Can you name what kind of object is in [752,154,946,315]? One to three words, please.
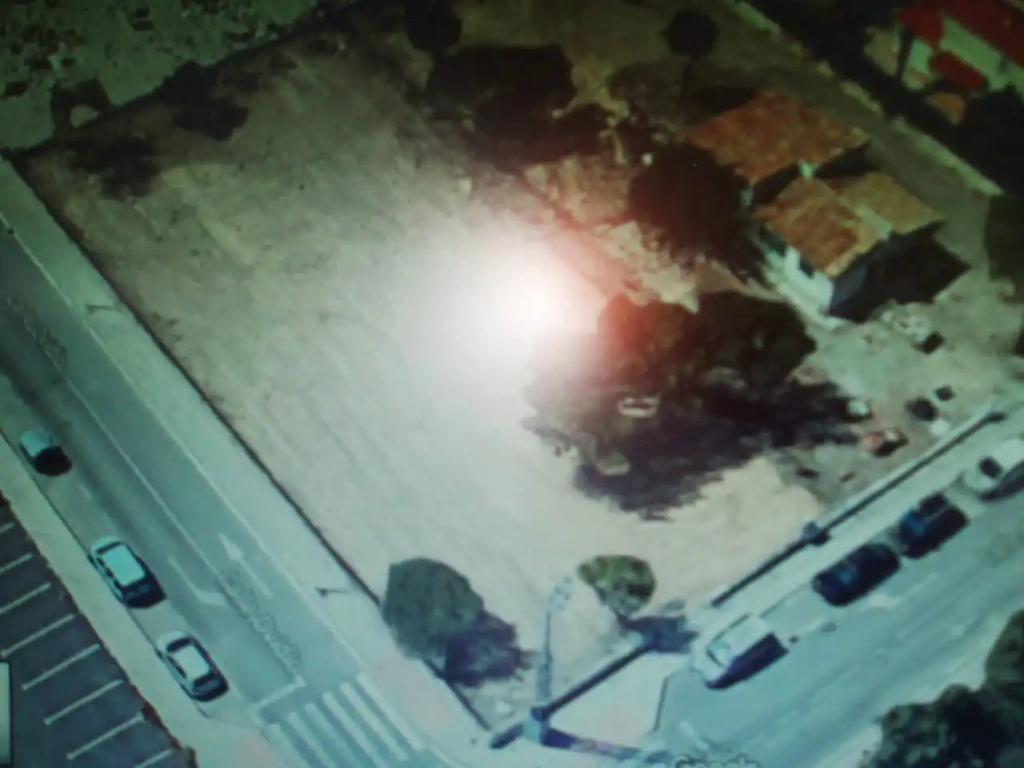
house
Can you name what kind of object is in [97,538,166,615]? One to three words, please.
car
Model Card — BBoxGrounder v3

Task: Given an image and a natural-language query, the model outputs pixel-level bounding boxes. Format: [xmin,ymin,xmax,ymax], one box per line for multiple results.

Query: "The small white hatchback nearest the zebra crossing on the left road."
[161,628,229,705]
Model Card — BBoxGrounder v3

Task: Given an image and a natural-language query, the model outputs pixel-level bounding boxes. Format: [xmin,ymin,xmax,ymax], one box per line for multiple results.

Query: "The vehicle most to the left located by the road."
[19,427,75,486]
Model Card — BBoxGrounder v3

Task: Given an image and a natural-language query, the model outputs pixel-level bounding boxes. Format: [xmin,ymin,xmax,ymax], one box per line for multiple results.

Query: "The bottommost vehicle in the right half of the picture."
[696,607,794,695]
